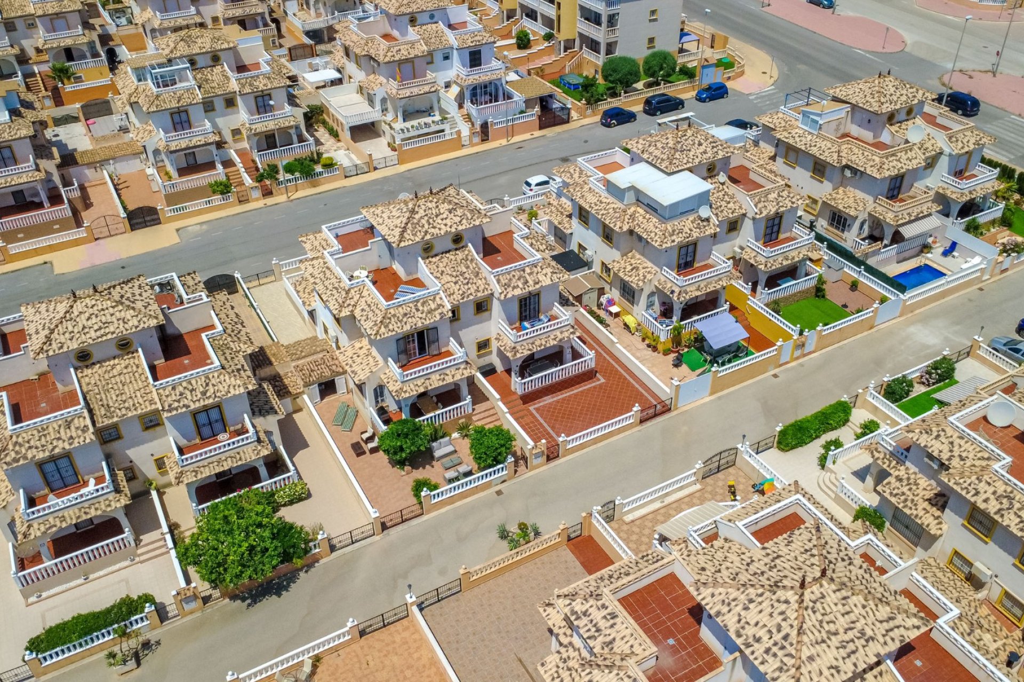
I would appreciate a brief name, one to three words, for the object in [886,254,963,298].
swimming pool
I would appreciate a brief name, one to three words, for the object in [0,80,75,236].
house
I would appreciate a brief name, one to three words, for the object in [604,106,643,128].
car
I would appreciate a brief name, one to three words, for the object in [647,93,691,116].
car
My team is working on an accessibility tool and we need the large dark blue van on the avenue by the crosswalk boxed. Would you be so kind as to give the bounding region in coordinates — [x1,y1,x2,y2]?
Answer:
[937,88,988,112]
